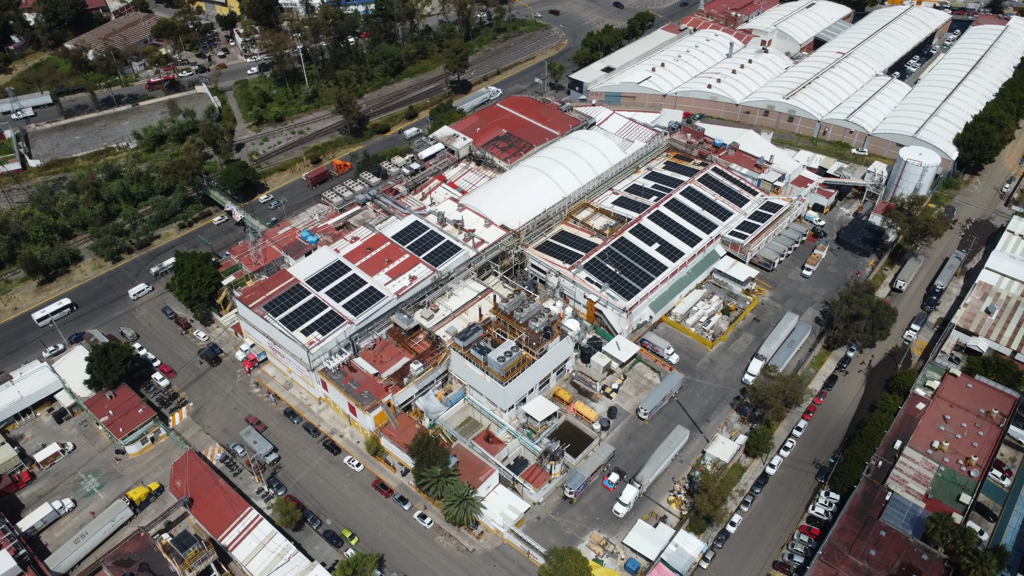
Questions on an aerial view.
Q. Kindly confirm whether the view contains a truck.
Yes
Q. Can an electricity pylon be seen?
Yes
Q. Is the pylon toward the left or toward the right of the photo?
left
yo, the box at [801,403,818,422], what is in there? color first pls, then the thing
red car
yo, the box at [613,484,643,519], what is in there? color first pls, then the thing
white truck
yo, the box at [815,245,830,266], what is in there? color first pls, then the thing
white vehicle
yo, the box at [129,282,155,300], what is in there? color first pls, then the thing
white vehicle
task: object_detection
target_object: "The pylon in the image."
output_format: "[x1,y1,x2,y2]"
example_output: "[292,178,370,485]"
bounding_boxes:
[237,212,267,267]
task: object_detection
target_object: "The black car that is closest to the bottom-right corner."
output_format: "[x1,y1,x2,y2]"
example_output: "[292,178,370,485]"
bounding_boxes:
[970,501,1003,524]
